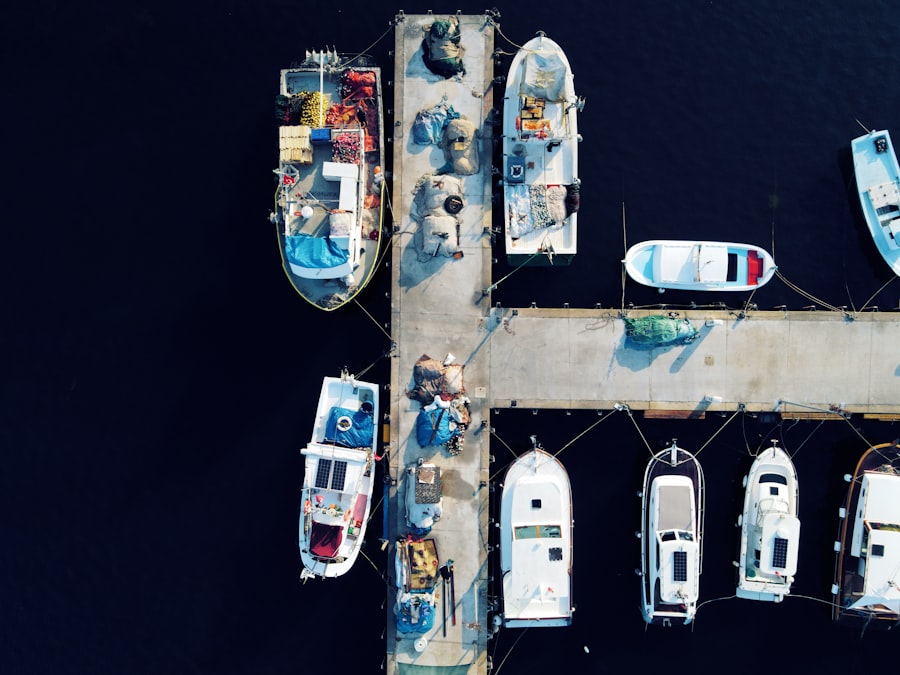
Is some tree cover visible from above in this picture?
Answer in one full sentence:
No, tree cover can't be seen anywhere here.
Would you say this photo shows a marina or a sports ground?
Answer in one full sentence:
This looks like a marina.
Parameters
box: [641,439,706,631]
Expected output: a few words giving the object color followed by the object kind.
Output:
white boat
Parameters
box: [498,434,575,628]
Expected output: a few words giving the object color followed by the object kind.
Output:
white boat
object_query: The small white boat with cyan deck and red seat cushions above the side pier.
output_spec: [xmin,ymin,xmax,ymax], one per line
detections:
[624,239,778,292]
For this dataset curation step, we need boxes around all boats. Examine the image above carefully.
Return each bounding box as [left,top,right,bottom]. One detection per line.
[498,434,575,628]
[849,129,900,279]
[835,439,900,626]
[503,32,587,266]
[736,439,800,602]
[624,239,778,292]
[641,439,706,631]
[298,367,380,580]
[275,46,385,311]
